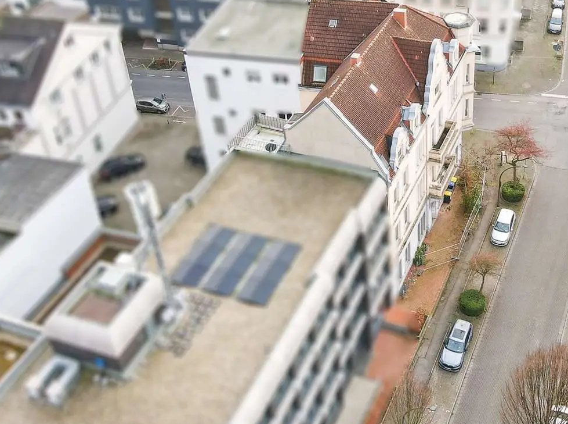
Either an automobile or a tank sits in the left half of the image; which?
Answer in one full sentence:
It is an automobile that can be seen in the left half of the image.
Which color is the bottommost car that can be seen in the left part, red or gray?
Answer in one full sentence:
The bottommost car that can be seen in the left part looks gray in the image.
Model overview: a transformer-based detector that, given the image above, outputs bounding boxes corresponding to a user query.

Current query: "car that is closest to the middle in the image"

[180,144,206,171]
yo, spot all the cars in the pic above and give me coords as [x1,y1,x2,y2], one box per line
[91,193,129,215]
[490,210,517,246]
[180,144,206,171]
[551,0,565,8]
[169,56,190,72]
[96,155,146,179]
[437,319,474,374]
[136,95,173,116]
[547,10,565,32]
